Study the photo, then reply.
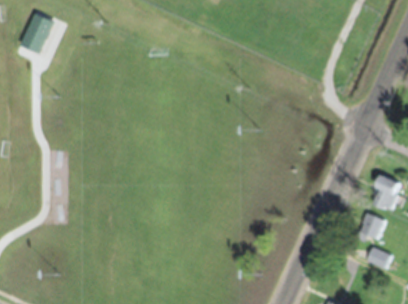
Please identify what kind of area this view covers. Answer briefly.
sports ground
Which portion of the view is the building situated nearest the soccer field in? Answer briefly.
top left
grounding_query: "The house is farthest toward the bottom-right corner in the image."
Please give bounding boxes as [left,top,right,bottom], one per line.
[368,246,394,268]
